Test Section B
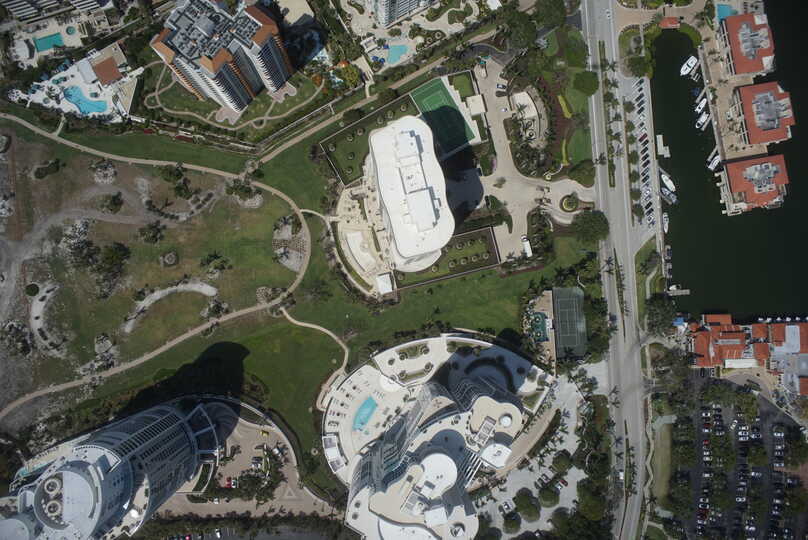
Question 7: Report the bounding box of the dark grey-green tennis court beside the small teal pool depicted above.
[555,287,587,359]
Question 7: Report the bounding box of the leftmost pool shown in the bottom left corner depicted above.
[14,456,56,483]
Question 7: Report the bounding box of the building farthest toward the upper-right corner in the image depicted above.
[716,13,775,78]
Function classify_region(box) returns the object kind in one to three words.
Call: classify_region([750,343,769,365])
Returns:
building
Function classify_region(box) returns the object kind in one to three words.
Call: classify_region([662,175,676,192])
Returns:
boat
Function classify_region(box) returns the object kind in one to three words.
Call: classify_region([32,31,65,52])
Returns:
swimming pool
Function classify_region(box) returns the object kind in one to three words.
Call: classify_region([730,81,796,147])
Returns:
building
